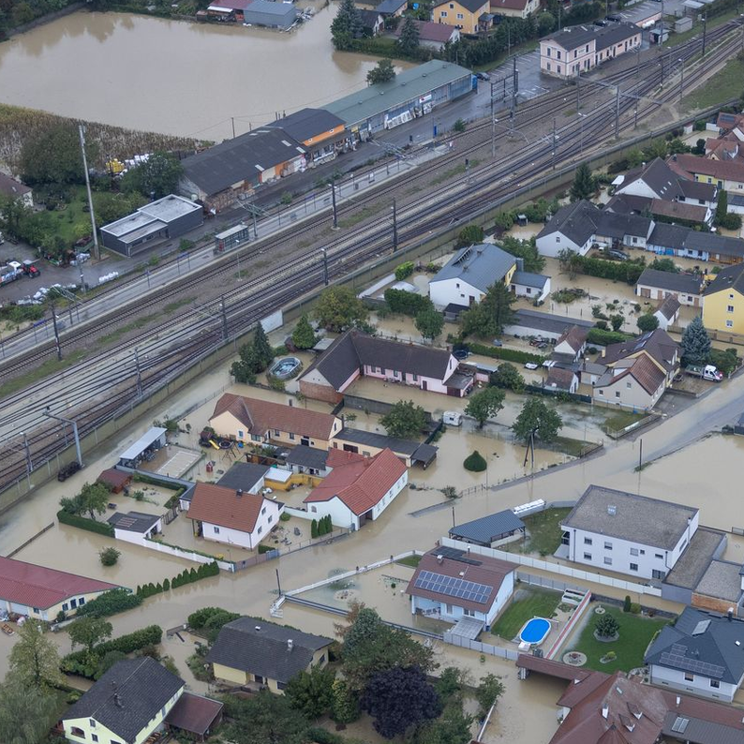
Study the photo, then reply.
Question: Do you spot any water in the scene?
Yes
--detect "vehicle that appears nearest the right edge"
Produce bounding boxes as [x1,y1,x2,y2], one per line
[684,365,724,384]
